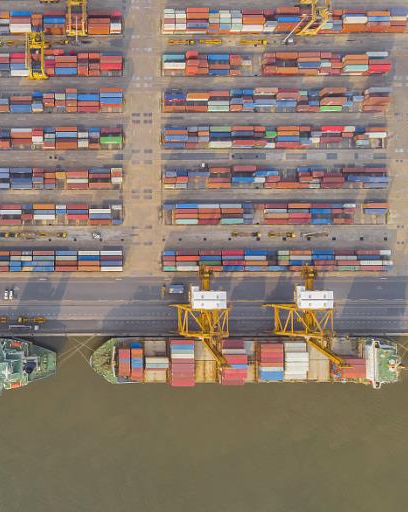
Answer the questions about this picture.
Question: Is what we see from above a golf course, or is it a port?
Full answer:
The area seen from above is a port.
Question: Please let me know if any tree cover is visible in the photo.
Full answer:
No, there is no tree cover in the image.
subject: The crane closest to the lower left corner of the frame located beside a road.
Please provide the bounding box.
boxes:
[172,263,234,367]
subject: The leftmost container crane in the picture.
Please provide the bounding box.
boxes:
[28,29,50,81]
